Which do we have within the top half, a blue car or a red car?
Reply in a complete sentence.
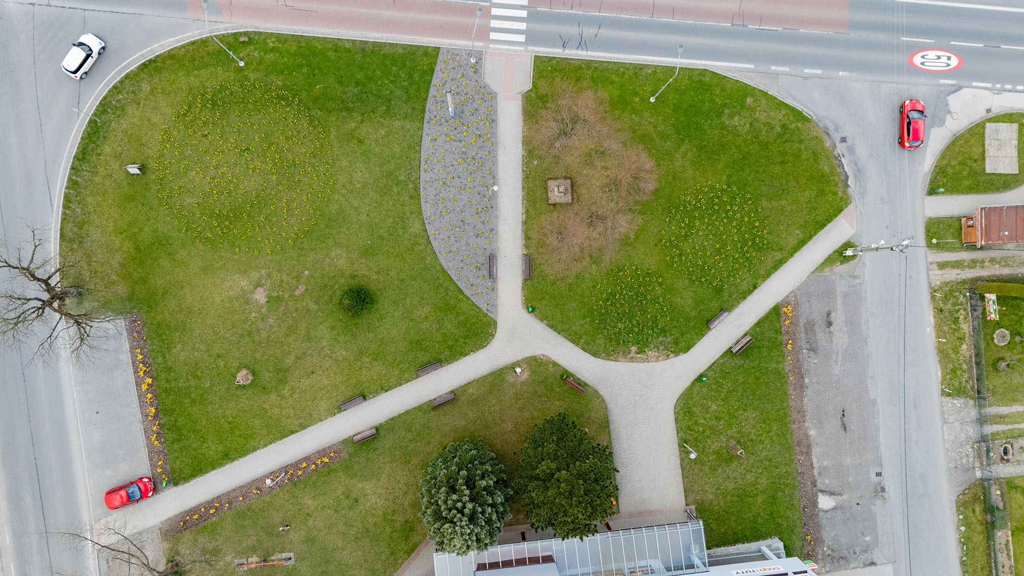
What appears within the top half is a red car.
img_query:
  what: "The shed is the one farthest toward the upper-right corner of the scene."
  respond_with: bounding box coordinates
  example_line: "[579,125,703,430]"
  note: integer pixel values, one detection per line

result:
[963,204,1024,248]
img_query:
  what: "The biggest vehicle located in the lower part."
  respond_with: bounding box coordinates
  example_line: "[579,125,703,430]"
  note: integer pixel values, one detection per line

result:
[102,475,159,511]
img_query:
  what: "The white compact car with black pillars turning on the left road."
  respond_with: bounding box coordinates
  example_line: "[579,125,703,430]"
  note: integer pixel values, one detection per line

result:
[62,34,105,82]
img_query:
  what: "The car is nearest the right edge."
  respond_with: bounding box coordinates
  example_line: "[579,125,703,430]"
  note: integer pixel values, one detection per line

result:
[897,100,928,151]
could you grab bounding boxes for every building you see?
[963,204,1024,248]
[433,509,818,576]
